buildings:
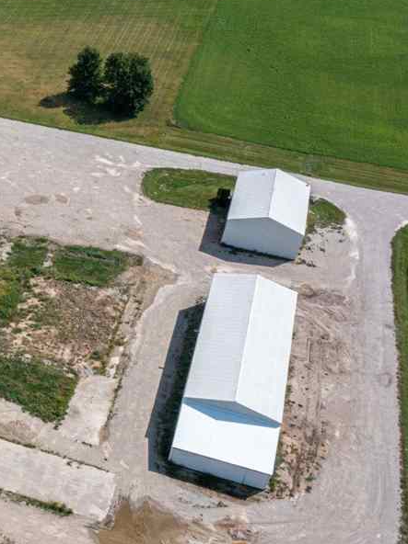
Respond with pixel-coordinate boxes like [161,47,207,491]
[221,168,310,260]
[168,273,298,490]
